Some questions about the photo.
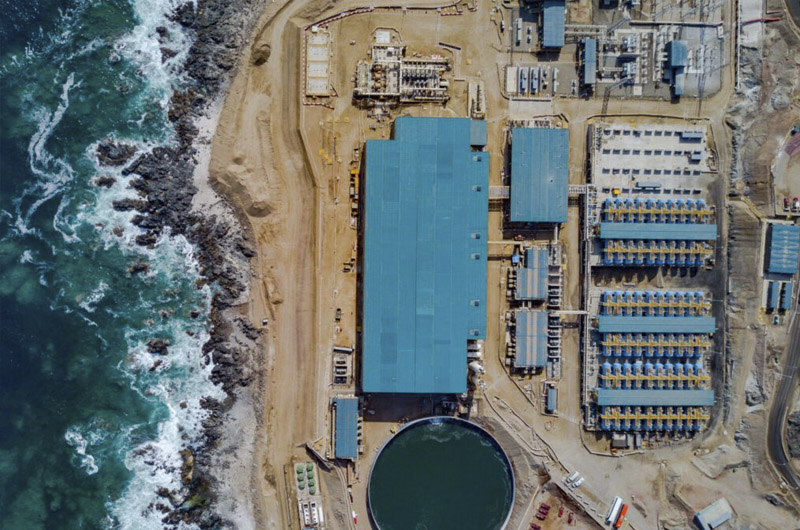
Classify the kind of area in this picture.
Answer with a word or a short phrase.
industrial area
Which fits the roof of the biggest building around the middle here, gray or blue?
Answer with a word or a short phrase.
blue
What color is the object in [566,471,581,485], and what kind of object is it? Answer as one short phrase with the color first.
white vehicle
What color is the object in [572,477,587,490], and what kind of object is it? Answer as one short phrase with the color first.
white vehicle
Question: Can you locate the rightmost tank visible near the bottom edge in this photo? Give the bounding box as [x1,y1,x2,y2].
[368,405,515,530]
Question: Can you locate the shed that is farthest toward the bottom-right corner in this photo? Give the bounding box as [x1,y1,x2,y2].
[691,496,733,530]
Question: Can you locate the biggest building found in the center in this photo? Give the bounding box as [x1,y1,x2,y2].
[363,116,489,393]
